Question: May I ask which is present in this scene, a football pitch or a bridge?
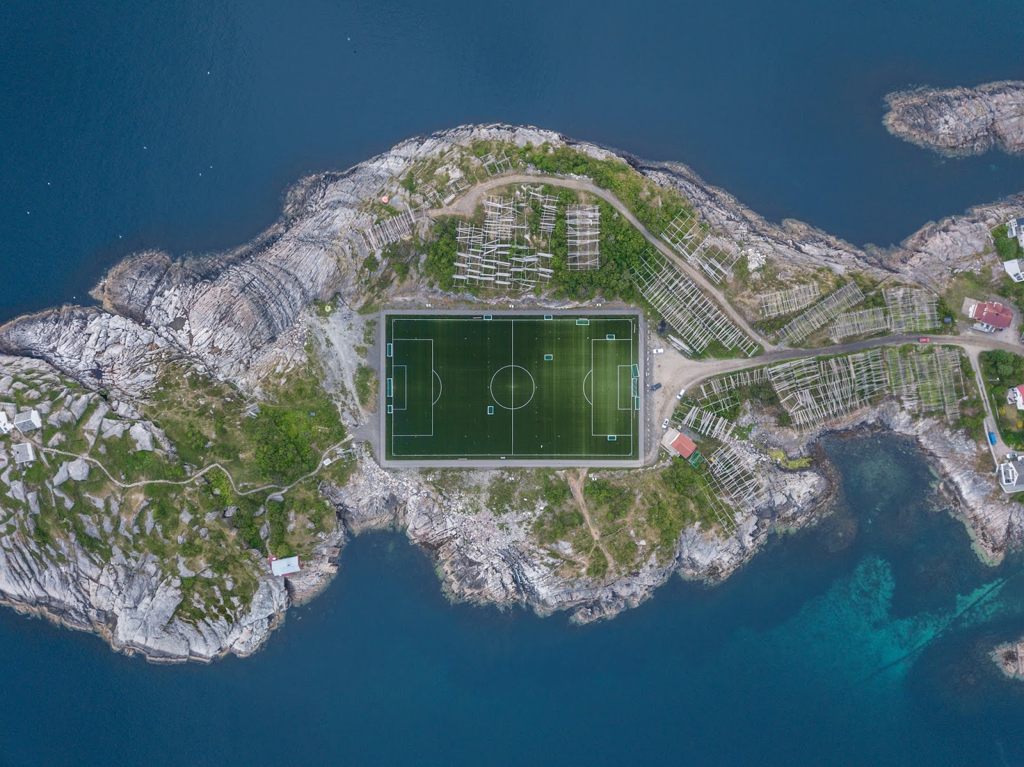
football pitch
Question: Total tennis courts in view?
none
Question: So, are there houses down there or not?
Yes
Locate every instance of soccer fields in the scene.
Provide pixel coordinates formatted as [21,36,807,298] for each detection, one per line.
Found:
[380,310,644,467]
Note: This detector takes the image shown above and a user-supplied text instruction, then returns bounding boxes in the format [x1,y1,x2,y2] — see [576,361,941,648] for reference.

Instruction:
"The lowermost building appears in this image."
[267,554,302,575]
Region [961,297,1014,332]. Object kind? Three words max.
house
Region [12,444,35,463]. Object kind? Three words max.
shed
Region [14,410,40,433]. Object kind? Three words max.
house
